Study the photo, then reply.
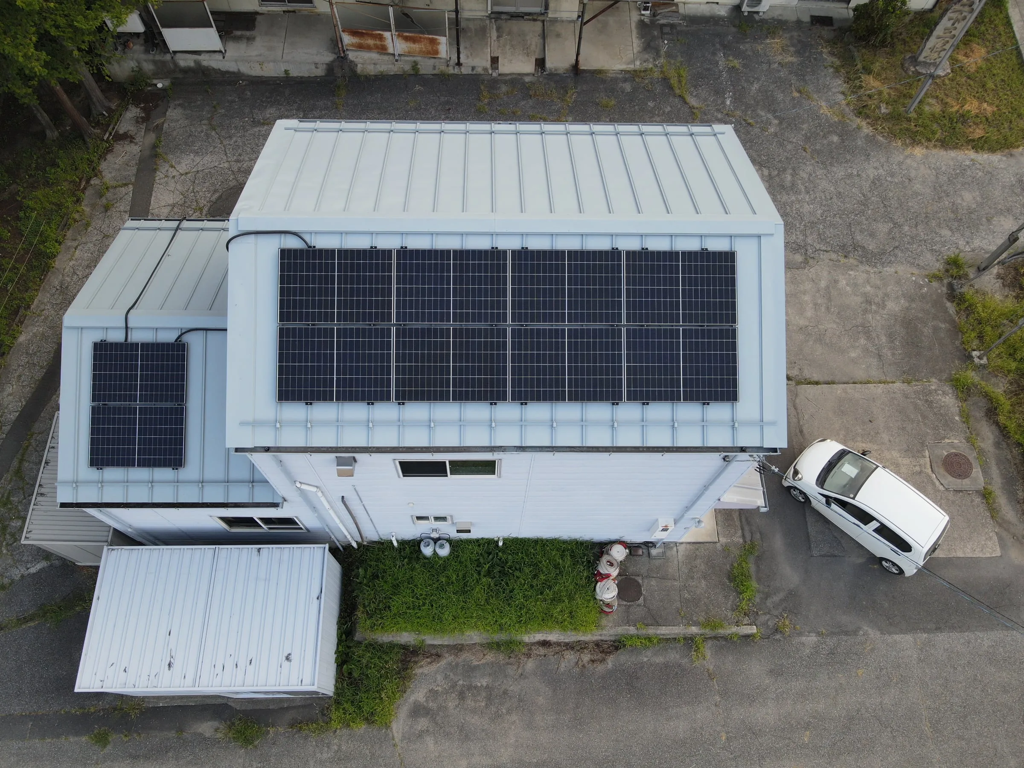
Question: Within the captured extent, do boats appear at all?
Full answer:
No, the photo shows no boat.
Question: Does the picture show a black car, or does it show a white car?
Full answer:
Visible in the photo is a white car.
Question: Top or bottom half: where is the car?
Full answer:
Seen from above, the car lies in the bottom half of the view.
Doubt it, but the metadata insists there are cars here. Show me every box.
[785,439,951,577]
